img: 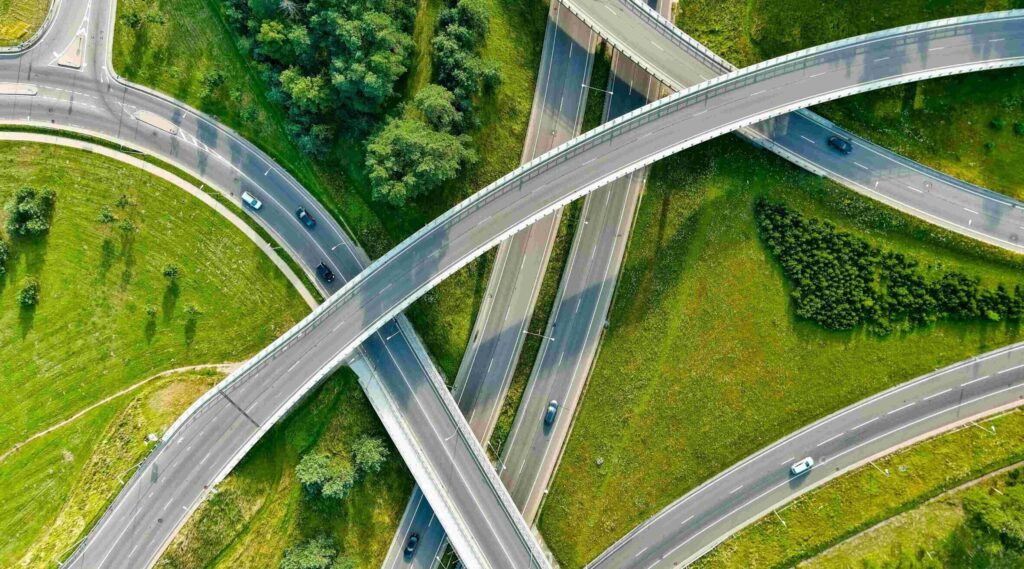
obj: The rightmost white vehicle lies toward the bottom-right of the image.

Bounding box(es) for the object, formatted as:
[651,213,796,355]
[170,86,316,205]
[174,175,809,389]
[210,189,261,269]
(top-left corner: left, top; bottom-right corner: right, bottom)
[790,457,814,475]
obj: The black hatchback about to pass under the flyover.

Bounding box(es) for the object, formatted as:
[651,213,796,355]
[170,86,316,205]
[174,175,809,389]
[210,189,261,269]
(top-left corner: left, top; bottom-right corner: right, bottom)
[315,261,335,283]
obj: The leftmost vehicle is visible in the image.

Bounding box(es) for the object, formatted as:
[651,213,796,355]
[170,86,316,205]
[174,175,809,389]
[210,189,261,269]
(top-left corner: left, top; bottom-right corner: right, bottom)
[239,190,263,211]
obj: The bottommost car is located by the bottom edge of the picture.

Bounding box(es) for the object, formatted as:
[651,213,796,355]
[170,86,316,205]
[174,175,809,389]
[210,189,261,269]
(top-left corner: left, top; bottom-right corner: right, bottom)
[404,534,420,558]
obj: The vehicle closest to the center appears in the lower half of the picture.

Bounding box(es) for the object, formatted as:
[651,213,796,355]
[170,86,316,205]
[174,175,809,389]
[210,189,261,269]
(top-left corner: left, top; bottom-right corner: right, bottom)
[544,400,558,425]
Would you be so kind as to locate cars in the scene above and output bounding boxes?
[295,206,318,229]
[315,261,335,283]
[790,457,814,475]
[544,400,558,425]
[404,534,420,558]
[239,190,263,211]
[827,136,853,154]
